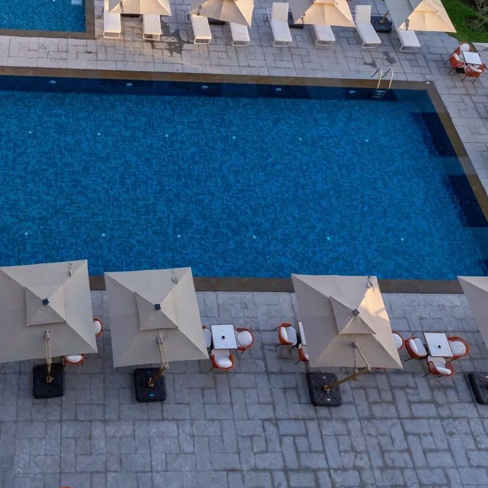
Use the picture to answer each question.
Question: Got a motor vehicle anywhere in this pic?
No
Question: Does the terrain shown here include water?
Yes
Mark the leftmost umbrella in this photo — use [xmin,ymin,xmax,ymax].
[0,263,99,398]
